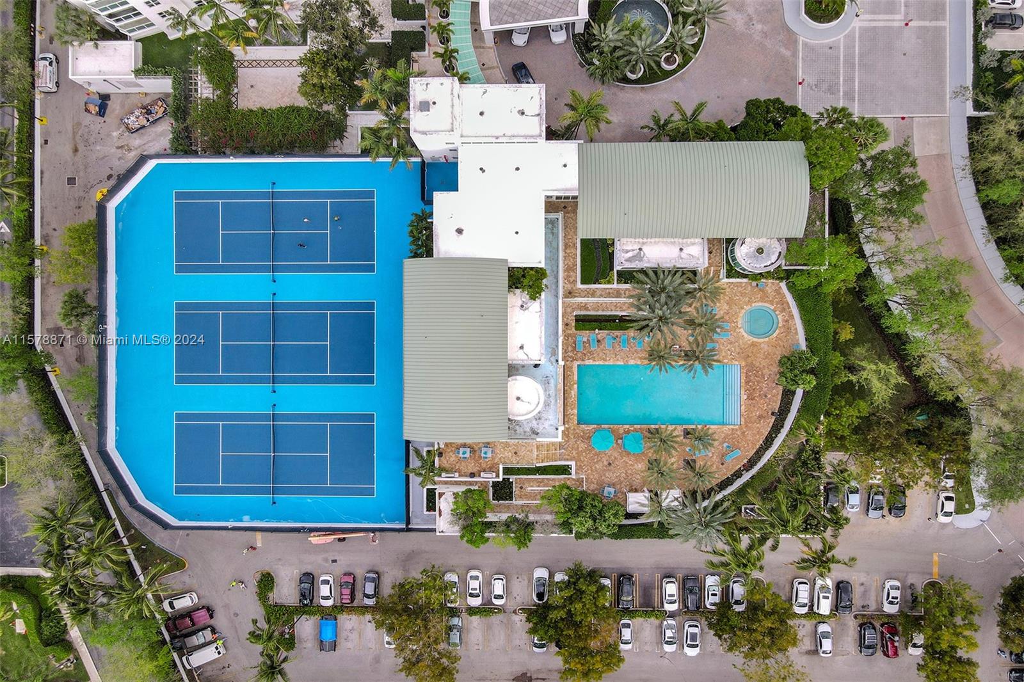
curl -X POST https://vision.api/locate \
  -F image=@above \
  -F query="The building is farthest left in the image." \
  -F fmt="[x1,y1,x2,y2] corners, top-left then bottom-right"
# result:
[68,41,171,91]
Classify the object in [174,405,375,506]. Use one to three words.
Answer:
tennis court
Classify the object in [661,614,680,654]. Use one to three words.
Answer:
car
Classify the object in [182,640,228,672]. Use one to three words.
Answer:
van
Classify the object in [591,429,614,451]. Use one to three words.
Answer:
umbrella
